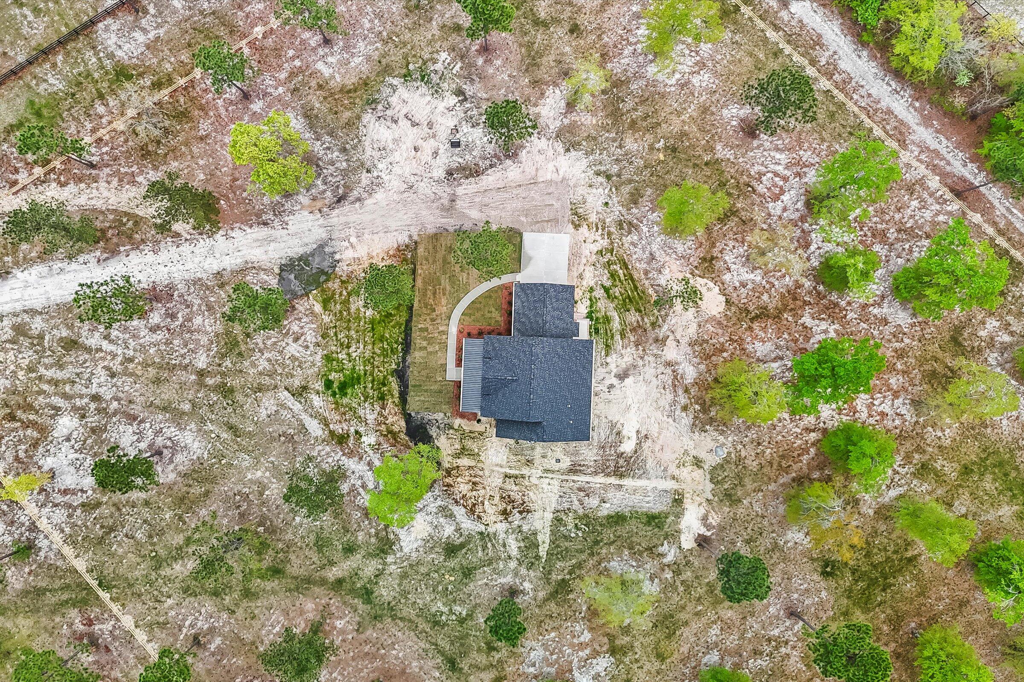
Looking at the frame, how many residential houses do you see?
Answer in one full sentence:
In total, there is 1 residential house in the scene.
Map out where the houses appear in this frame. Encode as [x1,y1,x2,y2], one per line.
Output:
[459,282,596,442]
